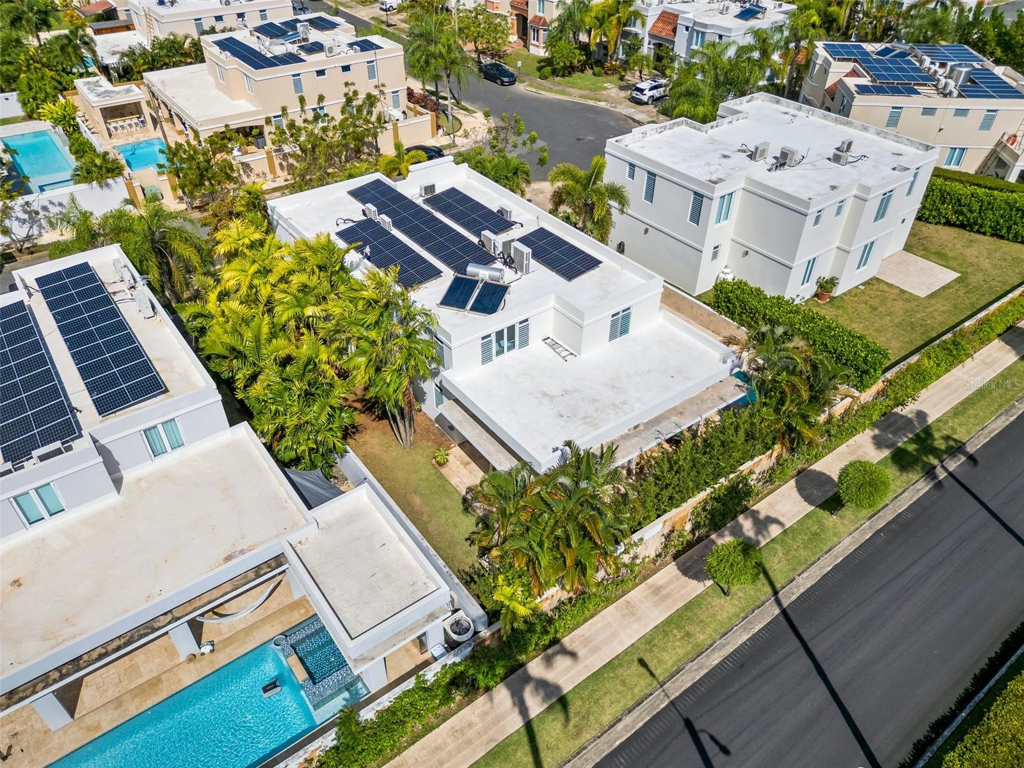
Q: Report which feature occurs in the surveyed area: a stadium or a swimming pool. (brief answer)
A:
swimming pool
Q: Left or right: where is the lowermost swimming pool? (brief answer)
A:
left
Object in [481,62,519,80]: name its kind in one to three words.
car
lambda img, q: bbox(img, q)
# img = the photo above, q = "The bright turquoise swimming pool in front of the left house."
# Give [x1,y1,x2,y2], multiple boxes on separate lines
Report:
[43,617,371,768]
